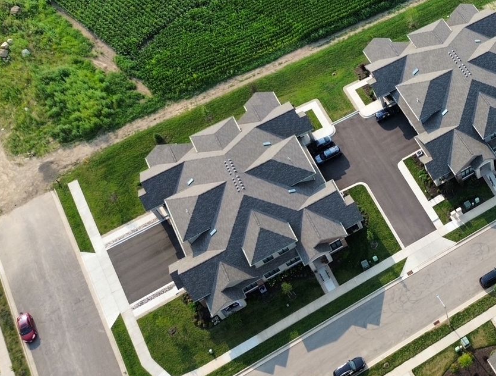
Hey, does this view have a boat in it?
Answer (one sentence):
No, there appears to be no boat in this shot.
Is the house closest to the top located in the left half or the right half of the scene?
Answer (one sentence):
The house closest to the top appears in the right half of the scene.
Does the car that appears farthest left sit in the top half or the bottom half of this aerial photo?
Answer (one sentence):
The car that appears farthest left sits in the bottom half of the picture.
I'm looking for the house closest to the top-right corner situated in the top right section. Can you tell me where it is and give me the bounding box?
[360,0,496,197]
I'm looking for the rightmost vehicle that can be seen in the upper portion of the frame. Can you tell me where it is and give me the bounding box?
[372,103,398,123]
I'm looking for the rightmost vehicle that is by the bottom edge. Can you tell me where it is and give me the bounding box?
[330,354,369,376]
